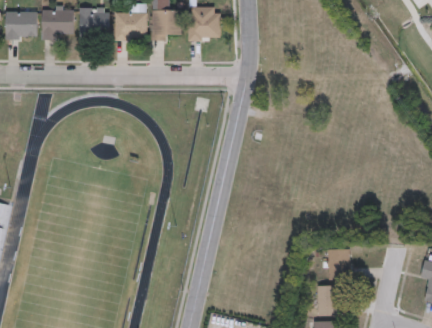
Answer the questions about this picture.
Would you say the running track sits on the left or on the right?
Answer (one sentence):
The running track sits on the left side.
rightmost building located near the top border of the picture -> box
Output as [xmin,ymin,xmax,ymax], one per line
[189,0,222,41]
